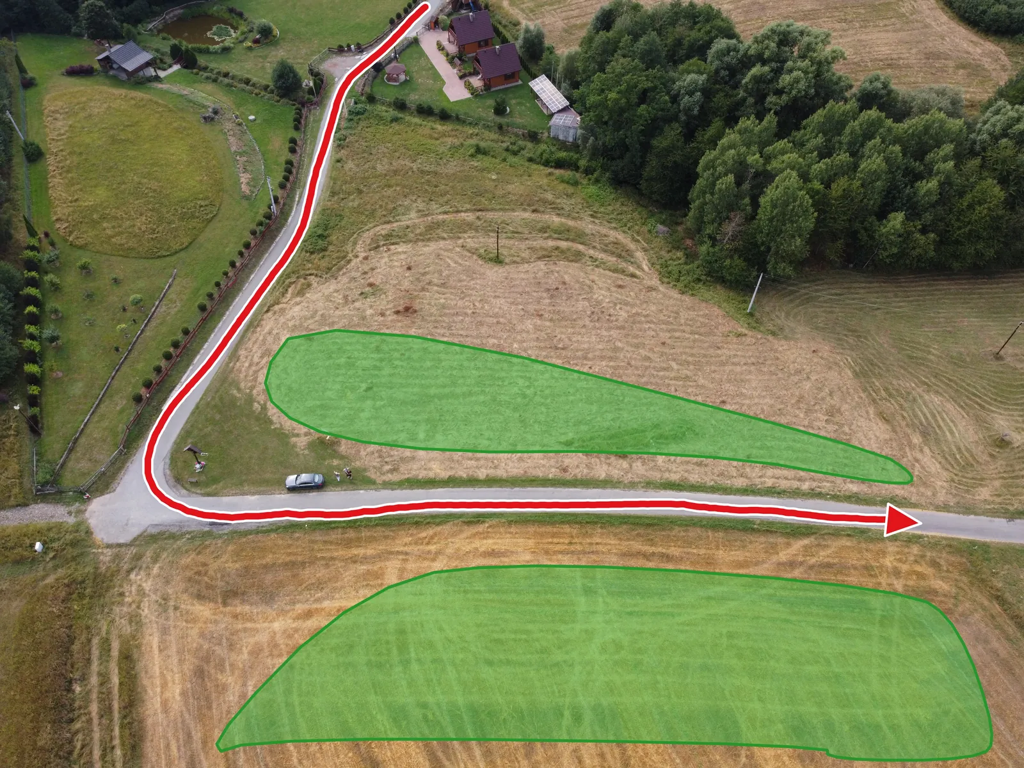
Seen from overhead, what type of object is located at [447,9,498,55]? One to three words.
house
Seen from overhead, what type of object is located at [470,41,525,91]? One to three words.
house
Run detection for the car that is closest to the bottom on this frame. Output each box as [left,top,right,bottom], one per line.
[284,473,325,492]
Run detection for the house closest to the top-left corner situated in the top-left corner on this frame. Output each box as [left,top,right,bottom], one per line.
[102,36,169,80]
